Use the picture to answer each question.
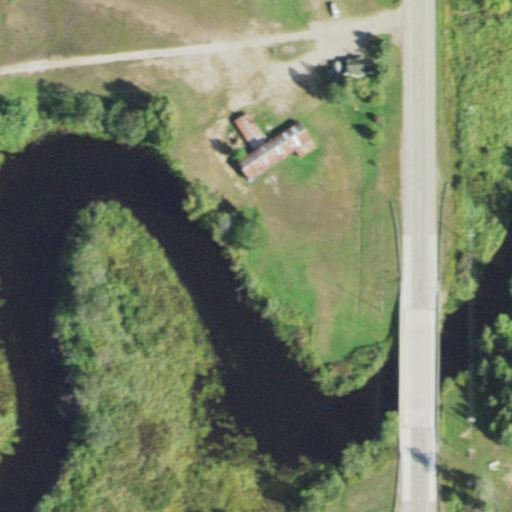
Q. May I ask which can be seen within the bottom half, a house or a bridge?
bridge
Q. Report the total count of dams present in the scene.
none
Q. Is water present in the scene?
Yes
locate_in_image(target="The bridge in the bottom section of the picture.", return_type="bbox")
[398,302,440,431]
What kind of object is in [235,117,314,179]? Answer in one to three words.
house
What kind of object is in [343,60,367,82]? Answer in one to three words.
building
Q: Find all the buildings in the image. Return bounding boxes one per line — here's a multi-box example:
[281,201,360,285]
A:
[235,117,314,179]
[343,60,367,82]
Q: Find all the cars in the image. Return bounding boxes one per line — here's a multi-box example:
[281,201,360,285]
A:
[334,60,342,74]
[331,2,339,18]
